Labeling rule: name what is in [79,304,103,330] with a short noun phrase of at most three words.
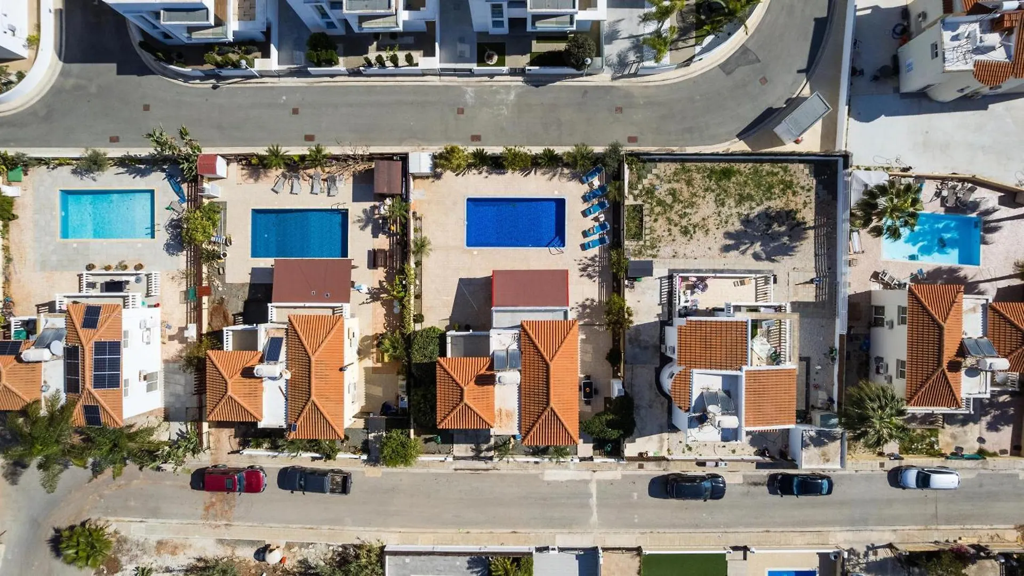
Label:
solar panel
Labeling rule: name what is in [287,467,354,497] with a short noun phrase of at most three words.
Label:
truck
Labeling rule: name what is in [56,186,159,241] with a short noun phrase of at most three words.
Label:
swimming pool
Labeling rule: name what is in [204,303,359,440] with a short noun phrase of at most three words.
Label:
house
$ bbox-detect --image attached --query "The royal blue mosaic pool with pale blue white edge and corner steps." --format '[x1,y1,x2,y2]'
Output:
[464,195,568,254]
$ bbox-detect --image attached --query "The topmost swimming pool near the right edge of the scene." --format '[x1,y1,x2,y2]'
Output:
[879,207,985,268]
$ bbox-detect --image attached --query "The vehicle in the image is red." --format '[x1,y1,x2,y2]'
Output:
[204,464,268,495]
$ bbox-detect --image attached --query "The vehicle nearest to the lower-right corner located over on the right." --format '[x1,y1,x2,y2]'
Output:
[897,464,961,493]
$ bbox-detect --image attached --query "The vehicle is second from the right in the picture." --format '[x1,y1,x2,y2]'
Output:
[774,470,833,499]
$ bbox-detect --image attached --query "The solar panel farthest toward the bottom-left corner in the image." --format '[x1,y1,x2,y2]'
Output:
[80,404,102,427]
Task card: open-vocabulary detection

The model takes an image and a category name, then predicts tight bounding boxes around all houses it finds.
[204,303,359,440]
[435,305,580,447]
[0,293,160,429]
[106,0,269,43]
[0,0,27,57]
[469,0,610,33]
[285,0,439,34]
[901,0,1024,100]
[658,304,801,443]
[871,284,1024,418]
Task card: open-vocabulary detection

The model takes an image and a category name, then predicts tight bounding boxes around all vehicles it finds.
[897,464,961,493]
[204,464,268,495]
[667,472,725,502]
[774,470,833,499]
[287,467,354,497]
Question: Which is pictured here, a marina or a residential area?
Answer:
residential area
